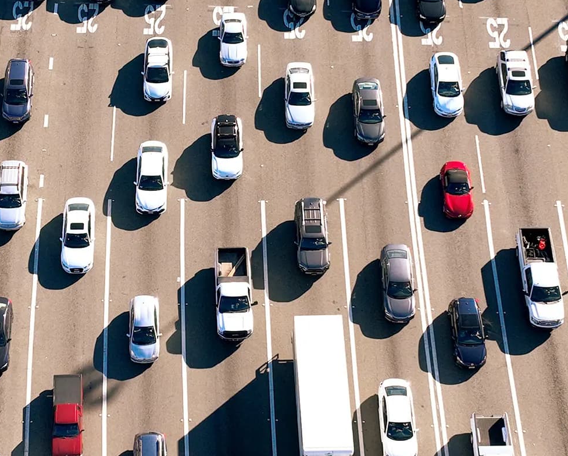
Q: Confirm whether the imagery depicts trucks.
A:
Yes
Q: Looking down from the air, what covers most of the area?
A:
paved ground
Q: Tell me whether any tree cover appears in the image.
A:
No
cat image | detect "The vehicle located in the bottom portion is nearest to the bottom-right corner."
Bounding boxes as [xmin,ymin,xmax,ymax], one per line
[466,410,508,456]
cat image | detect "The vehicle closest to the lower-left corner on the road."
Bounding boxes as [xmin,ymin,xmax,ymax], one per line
[45,374,87,456]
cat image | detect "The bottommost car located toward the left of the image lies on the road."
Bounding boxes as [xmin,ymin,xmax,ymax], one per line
[133,429,167,456]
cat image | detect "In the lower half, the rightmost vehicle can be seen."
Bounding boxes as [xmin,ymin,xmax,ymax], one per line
[516,227,568,329]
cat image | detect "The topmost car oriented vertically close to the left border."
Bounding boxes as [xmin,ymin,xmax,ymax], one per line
[0,58,35,125]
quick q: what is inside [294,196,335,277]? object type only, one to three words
car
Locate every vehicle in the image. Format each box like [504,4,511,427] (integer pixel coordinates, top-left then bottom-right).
[218,12,251,69]
[45,374,87,456]
[59,195,96,276]
[289,0,316,19]
[466,410,508,456]
[294,196,335,277]
[377,375,421,456]
[516,227,568,329]
[283,60,317,131]
[415,0,446,25]
[496,50,539,117]
[0,159,28,232]
[134,139,170,216]
[208,113,246,181]
[133,429,167,456]
[141,35,176,104]
[125,293,164,365]
[351,75,388,147]
[288,315,354,456]
[0,295,13,374]
[352,0,380,20]
[447,295,491,372]
[0,58,35,125]
[379,241,420,325]
[213,247,257,341]
[428,50,467,119]
[438,159,476,220]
